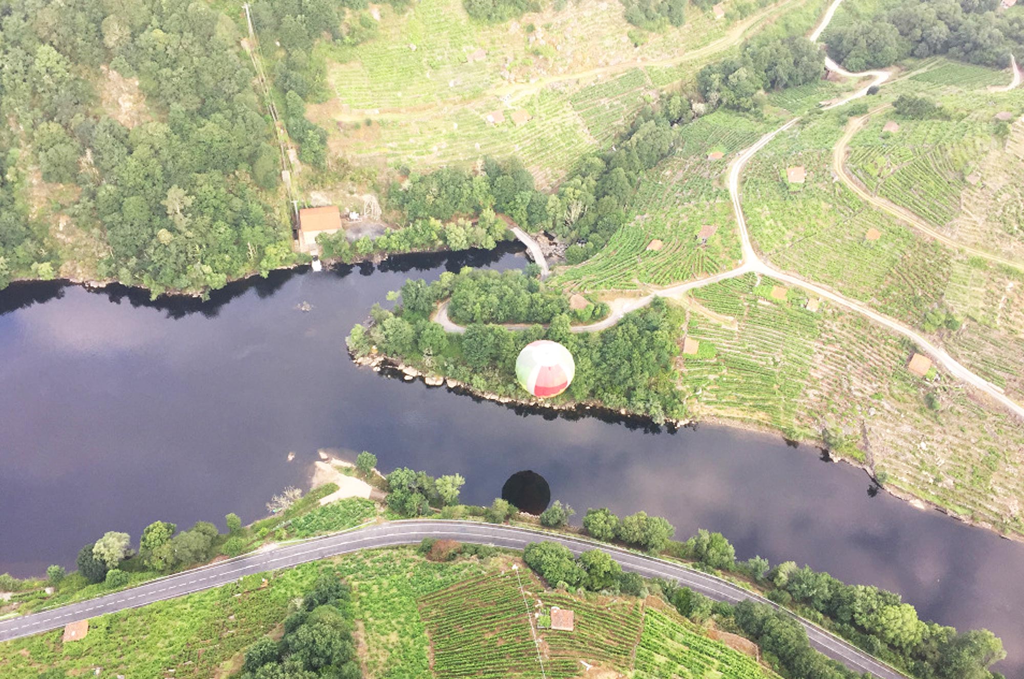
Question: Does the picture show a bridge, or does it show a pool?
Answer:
bridge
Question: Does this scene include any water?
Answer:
Yes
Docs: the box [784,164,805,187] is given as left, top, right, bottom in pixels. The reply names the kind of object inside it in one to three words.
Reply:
shed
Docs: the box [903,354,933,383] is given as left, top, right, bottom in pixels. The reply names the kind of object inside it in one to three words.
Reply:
shed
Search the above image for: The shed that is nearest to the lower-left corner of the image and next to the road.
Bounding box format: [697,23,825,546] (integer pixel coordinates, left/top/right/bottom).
[62,622,92,642]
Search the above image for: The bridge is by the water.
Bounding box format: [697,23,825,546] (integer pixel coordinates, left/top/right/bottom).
[510,225,553,281]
